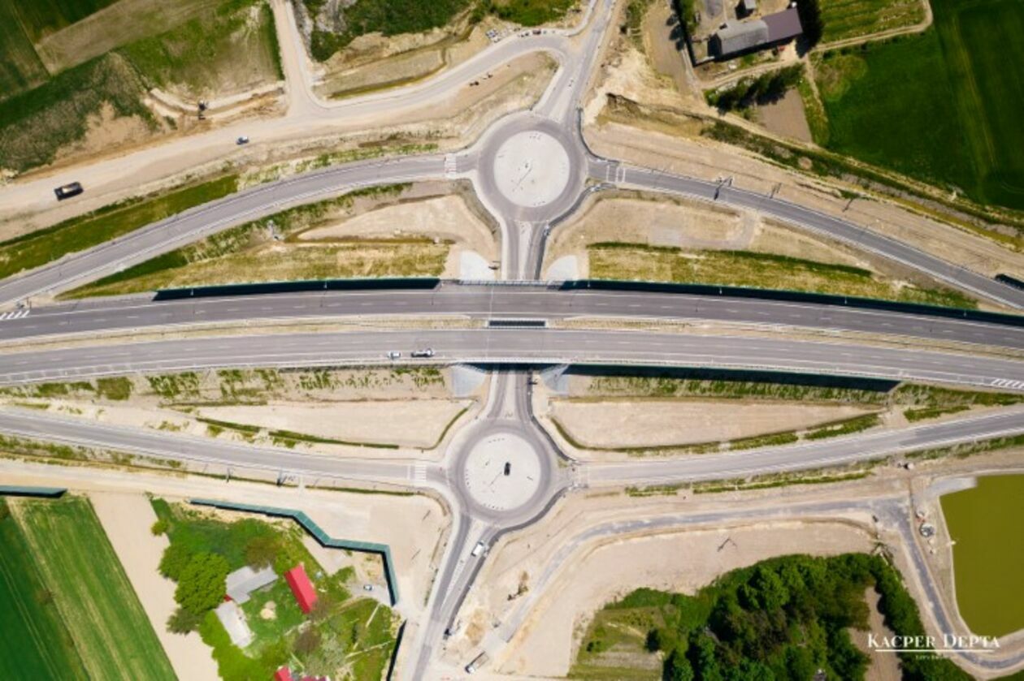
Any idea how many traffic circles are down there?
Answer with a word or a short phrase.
2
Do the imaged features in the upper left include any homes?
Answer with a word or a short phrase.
No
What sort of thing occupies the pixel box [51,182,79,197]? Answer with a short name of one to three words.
vehicle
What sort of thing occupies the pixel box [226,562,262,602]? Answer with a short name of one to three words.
house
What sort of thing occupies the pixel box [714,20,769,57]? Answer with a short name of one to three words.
barn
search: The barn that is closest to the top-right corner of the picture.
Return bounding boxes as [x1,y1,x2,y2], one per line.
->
[762,6,799,47]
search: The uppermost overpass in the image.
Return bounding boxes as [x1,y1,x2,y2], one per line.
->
[457,278,580,321]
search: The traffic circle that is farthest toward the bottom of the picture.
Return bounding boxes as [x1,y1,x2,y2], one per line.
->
[440,369,558,616]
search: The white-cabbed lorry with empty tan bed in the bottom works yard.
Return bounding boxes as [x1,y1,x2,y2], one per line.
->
[464,653,487,675]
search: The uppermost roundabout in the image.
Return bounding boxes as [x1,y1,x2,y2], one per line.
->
[477,77,588,280]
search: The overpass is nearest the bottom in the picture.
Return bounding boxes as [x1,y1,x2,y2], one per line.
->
[453,325,571,364]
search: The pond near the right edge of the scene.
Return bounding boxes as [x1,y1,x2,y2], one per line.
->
[943,476,1024,634]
